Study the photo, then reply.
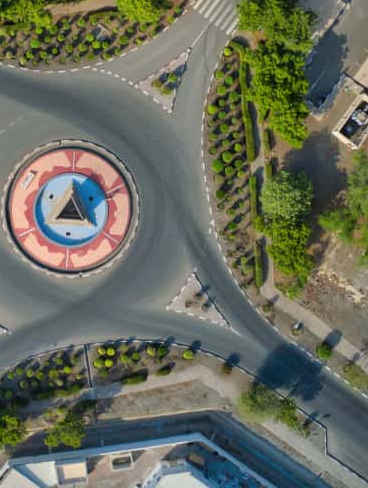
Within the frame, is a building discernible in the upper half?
Yes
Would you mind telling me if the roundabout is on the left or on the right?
left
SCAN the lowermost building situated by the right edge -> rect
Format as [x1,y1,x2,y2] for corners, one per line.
[326,94,368,149]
